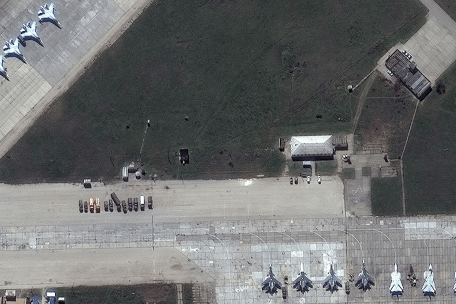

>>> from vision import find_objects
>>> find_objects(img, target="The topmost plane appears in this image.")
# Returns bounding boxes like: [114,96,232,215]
[36,0,61,24]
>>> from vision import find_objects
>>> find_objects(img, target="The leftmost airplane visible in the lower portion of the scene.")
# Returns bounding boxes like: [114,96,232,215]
[261,264,281,292]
